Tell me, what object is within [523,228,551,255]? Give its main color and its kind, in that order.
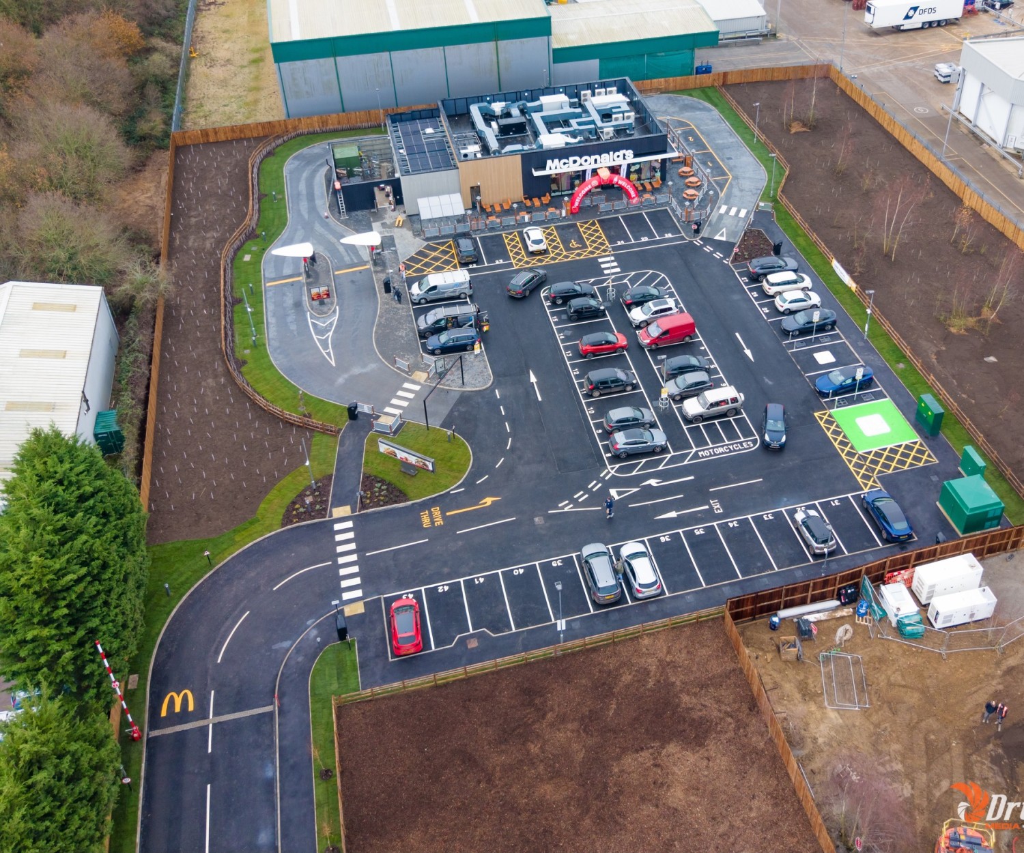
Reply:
white car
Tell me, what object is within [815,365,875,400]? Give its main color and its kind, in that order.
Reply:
blue car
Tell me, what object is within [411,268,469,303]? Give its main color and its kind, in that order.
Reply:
white van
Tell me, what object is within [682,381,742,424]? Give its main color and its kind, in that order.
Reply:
white car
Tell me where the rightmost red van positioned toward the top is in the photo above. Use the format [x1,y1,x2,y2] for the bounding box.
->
[637,308,699,349]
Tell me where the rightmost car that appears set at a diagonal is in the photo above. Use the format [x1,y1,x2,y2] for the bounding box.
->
[857,490,922,545]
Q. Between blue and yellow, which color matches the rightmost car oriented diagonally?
blue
